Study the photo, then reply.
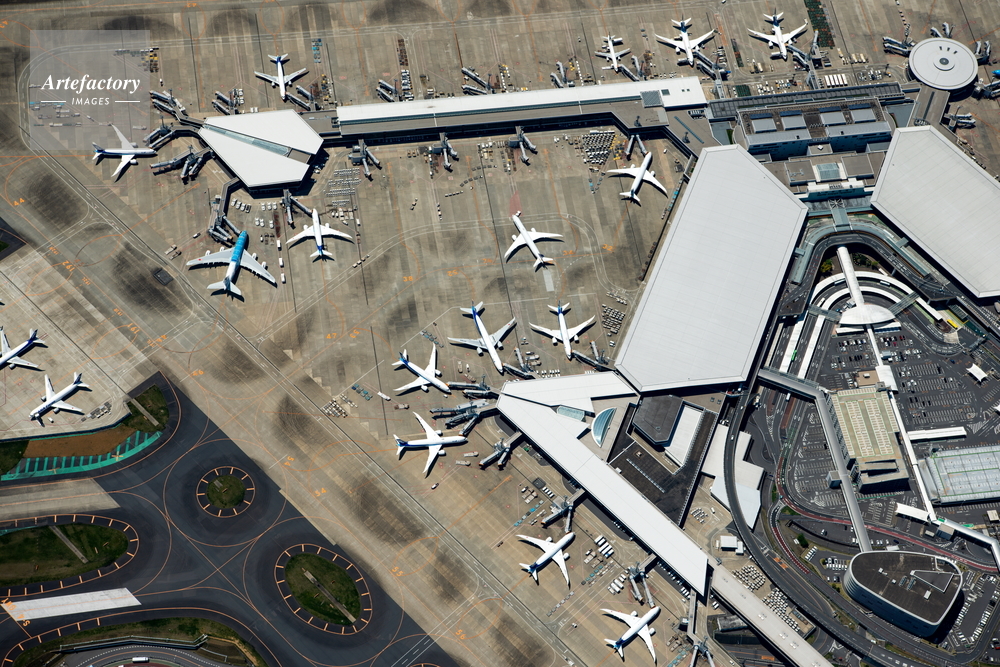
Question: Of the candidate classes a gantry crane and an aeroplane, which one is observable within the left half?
aeroplane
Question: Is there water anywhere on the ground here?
No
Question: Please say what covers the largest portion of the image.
paved ground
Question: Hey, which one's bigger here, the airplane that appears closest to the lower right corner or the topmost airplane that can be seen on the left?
the airplane that appears closest to the lower right corner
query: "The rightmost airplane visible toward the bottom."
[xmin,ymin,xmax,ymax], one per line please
[601,607,660,662]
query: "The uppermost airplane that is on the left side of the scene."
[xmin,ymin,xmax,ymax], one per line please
[255,54,305,100]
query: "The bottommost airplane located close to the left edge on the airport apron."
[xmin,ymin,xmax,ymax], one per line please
[30,373,88,418]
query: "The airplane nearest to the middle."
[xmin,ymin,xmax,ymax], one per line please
[447,302,516,373]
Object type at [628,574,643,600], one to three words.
jet bridge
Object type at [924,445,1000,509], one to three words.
building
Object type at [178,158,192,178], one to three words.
jet bridge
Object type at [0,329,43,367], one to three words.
airplane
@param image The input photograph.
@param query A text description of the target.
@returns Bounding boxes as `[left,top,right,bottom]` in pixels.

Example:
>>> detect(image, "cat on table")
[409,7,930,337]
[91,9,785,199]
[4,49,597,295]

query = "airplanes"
[187,231,275,295]
[655,17,714,64]
[601,607,660,662]
[93,125,156,176]
[991,68,1000,75]
[607,153,667,197]
[286,209,353,258]
[255,54,305,100]
[529,301,595,360]
[517,533,575,586]
[504,216,562,264]
[749,10,807,59]
[400,412,466,473]
[447,302,516,373]
[0,329,43,367]
[30,373,88,418]
[596,38,630,70]
[393,344,451,394]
